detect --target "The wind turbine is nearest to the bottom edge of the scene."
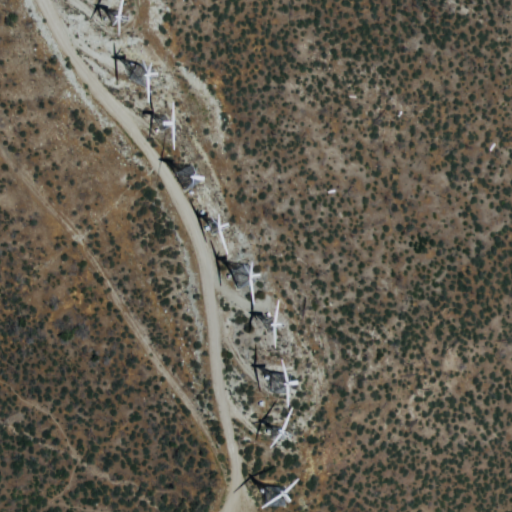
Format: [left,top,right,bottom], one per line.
[262,480,296,510]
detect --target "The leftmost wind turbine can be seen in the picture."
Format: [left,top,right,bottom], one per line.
[106,0,129,34]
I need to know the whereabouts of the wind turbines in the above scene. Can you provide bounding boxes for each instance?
[229,262,261,304]
[262,300,284,349]
[262,480,296,510]
[155,102,177,150]
[126,60,159,102]
[210,212,230,253]
[170,148,204,190]
[268,407,292,450]
[268,359,299,408]
[106,0,129,34]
